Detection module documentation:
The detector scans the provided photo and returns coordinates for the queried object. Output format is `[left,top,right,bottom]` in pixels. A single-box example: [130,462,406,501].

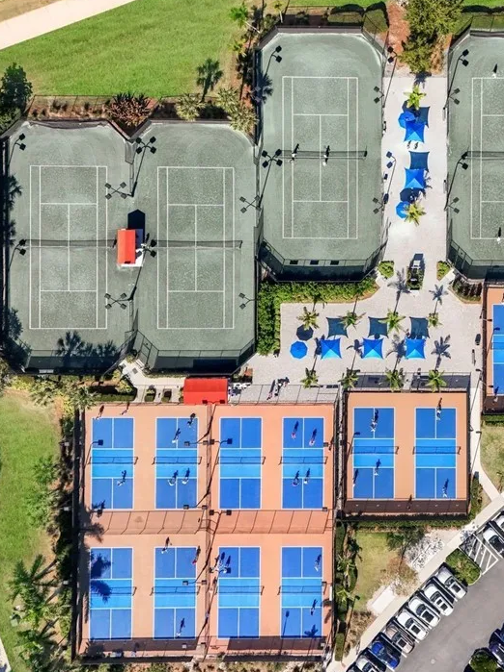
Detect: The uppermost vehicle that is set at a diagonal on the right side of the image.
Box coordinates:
[483,528,504,558]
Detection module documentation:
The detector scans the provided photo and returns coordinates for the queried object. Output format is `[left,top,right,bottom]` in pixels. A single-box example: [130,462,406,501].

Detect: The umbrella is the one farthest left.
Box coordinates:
[289,340,308,358]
